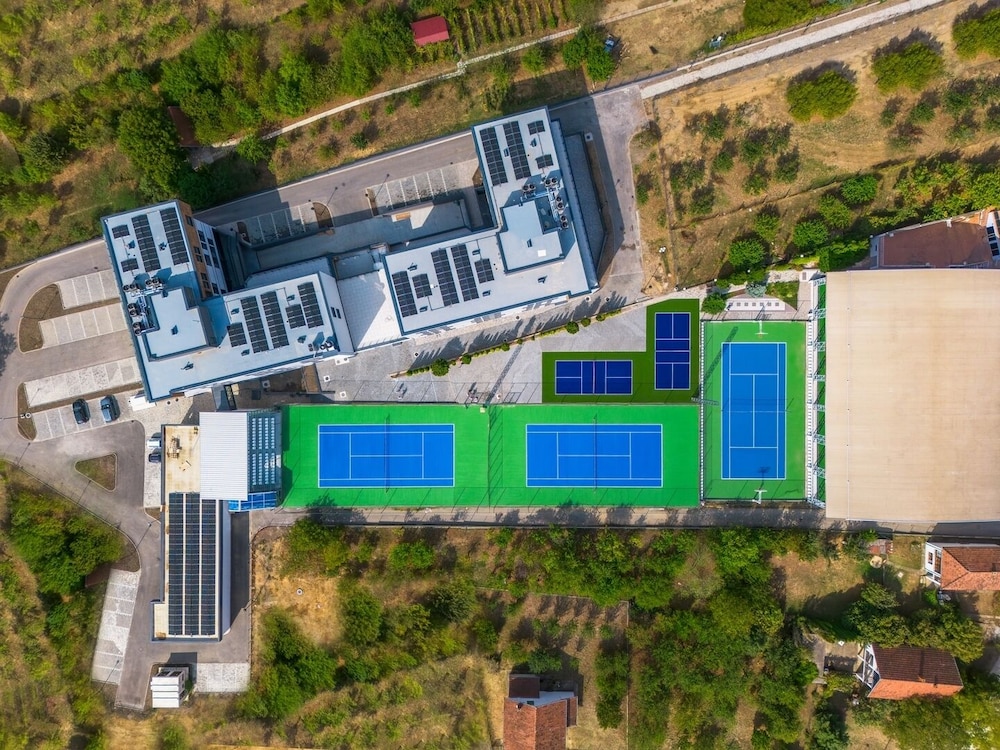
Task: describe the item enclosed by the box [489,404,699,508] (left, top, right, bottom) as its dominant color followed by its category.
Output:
green tennis court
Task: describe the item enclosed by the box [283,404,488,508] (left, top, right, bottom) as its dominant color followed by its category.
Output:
green tennis court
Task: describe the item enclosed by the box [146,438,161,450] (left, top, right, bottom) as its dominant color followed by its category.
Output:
white vehicle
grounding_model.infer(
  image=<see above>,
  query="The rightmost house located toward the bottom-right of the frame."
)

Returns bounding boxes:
[916,537,1000,591]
